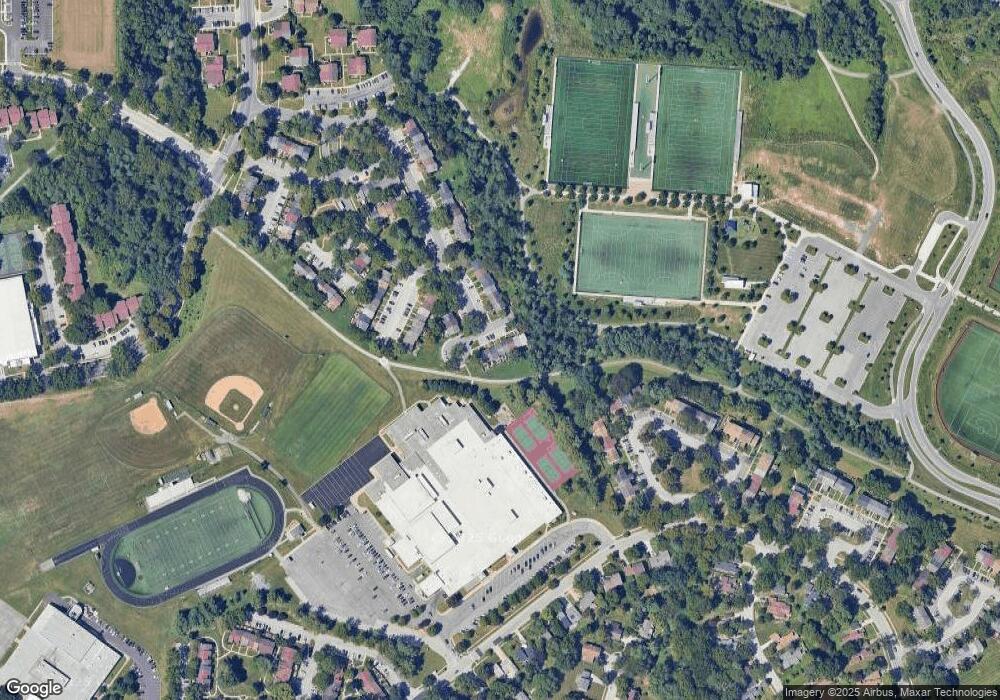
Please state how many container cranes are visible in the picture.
none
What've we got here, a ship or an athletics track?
athletics track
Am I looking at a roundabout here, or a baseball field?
baseball field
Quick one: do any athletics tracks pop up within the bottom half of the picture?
Yes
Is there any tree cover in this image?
Yes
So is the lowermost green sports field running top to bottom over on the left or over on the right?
right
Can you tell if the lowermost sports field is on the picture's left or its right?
left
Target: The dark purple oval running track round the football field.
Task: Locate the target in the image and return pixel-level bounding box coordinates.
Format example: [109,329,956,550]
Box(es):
[54,468,286,607]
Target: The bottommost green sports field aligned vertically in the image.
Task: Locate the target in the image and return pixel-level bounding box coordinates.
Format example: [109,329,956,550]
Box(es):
[938,320,1000,460]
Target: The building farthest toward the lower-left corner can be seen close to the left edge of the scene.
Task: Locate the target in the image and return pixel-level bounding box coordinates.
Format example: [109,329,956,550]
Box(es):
[0,603,124,700]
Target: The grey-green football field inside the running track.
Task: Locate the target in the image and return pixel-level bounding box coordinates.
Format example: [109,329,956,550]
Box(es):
[114,486,273,595]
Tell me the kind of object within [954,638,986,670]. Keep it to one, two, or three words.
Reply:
house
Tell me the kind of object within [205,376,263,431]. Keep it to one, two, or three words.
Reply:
baseball field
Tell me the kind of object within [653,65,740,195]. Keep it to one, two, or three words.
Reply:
sports field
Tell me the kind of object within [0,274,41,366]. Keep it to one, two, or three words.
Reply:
building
